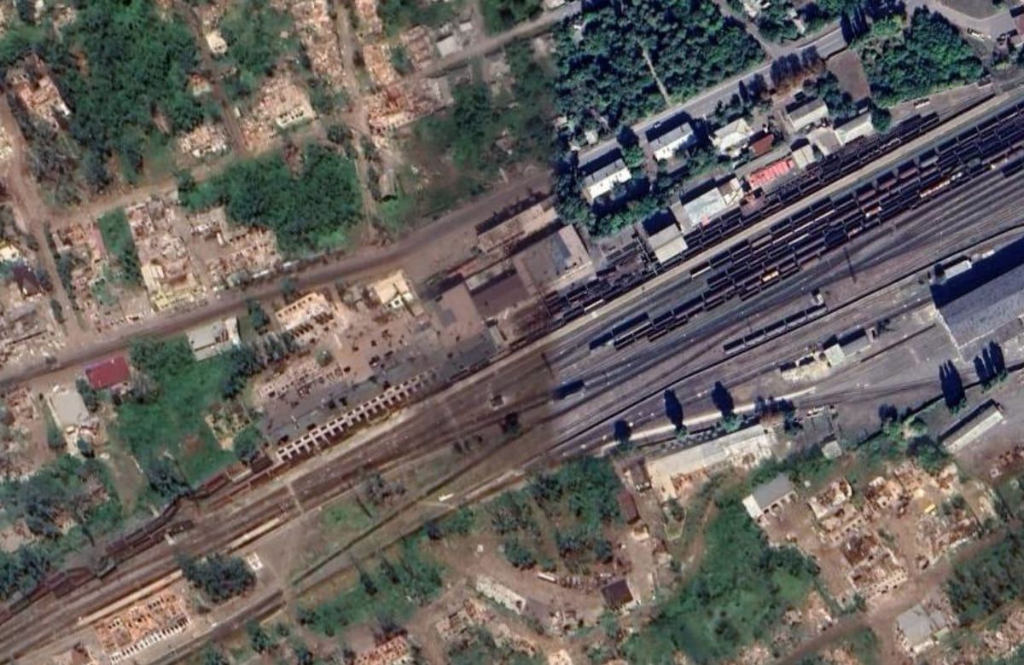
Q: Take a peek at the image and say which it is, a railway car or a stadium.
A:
railway car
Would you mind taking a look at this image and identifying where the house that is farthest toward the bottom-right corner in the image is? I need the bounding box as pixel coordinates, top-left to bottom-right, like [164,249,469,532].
[973,599,1024,658]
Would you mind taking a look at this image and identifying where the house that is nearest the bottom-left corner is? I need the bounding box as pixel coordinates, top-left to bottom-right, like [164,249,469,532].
[50,637,100,665]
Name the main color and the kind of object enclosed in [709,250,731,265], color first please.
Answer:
black rail car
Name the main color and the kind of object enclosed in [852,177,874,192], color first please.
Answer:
black rail car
